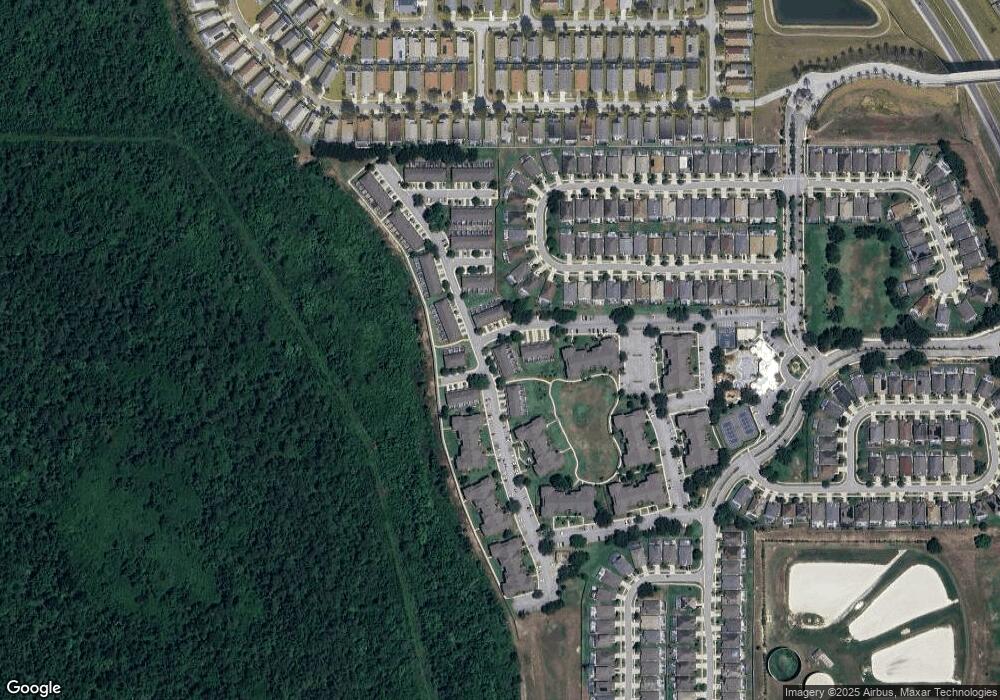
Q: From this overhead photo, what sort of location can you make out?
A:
residential area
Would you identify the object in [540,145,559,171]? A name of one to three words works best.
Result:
house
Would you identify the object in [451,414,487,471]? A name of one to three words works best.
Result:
building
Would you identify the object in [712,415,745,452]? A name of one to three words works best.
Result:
tennis court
